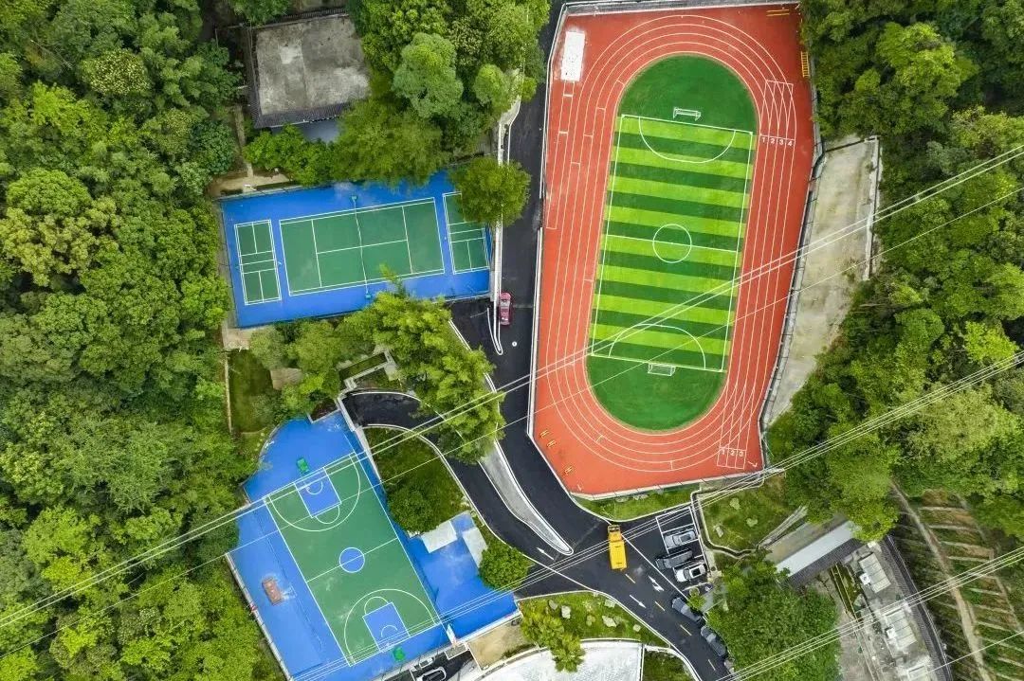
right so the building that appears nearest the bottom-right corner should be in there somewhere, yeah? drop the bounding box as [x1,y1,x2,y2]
[838,528,951,681]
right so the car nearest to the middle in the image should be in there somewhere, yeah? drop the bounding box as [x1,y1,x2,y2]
[498,293,512,325]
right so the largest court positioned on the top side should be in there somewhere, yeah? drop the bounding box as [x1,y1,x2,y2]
[279,198,445,296]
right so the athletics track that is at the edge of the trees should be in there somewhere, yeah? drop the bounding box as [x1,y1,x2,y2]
[532,3,814,499]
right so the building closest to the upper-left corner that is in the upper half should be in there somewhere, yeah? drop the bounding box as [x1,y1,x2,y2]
[248,8,379,129]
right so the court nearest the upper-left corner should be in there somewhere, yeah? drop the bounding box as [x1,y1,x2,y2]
[234,220,282,305]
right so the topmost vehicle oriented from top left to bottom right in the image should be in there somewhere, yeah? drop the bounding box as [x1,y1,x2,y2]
[672,597,703,622]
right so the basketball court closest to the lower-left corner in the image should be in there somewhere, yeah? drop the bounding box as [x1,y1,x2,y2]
[264,452,442,667]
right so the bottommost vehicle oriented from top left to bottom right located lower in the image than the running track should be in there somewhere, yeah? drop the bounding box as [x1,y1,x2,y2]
[699,626,727,656]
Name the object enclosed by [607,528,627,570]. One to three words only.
vehicle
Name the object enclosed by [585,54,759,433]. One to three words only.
soccer field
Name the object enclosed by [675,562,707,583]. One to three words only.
car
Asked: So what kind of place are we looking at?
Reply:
sports ground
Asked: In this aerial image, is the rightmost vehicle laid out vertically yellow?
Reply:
Yes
